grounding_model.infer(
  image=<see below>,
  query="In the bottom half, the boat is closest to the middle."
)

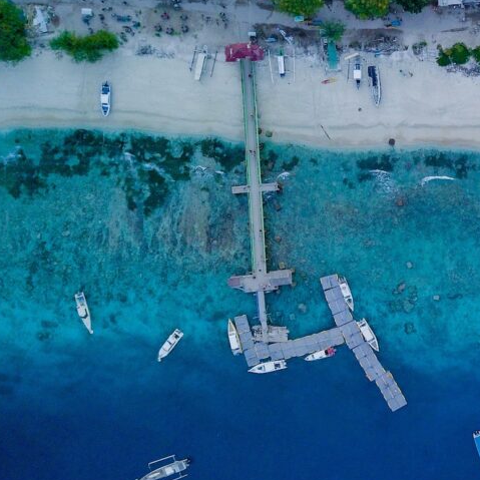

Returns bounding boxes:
[228,319,242,355]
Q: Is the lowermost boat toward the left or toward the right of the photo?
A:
left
